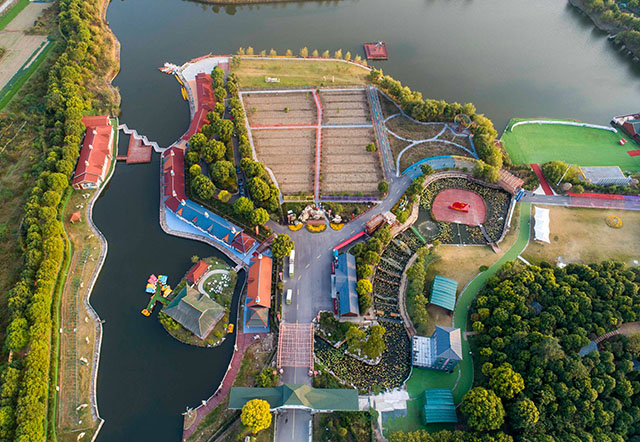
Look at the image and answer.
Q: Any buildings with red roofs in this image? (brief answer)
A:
Yes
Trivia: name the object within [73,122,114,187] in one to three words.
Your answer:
building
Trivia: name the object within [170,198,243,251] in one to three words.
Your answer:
building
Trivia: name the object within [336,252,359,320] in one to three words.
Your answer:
house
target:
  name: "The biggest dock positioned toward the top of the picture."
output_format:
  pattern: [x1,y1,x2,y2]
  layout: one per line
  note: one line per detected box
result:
[118,132,153,165]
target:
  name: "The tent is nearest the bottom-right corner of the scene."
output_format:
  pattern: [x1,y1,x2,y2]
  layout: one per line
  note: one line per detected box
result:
[532,205,550,248]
